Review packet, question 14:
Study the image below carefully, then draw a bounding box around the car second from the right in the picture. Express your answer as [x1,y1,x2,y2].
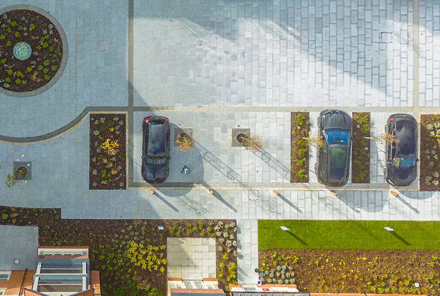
[313,109,357,186]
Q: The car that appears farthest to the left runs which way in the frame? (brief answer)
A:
vertically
